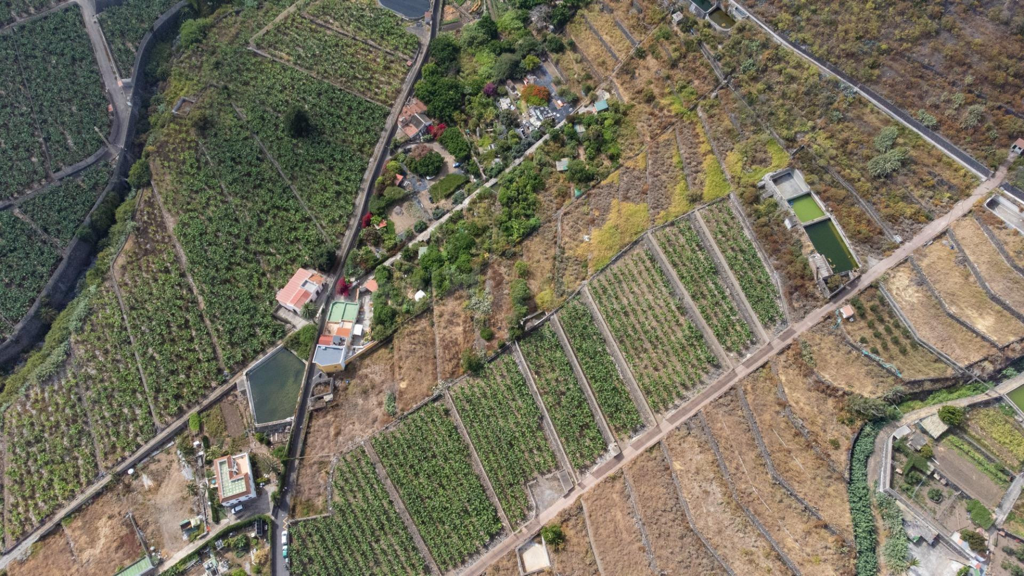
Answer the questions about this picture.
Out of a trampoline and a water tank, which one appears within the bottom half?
water tank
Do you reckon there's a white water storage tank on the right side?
Yes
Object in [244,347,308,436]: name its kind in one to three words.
water tank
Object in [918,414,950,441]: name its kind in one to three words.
building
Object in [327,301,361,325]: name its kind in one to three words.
house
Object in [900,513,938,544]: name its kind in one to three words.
shed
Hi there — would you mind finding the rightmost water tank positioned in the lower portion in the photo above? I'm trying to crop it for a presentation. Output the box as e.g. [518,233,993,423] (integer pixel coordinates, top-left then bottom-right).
[1002,380,1024,420]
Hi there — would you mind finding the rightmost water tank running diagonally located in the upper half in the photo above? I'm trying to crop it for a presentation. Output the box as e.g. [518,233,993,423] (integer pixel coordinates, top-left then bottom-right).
[981,195,1024,236]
